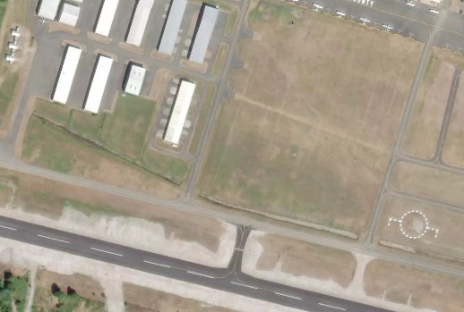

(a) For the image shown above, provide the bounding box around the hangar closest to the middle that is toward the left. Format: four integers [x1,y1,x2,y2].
[164,82,195,143]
